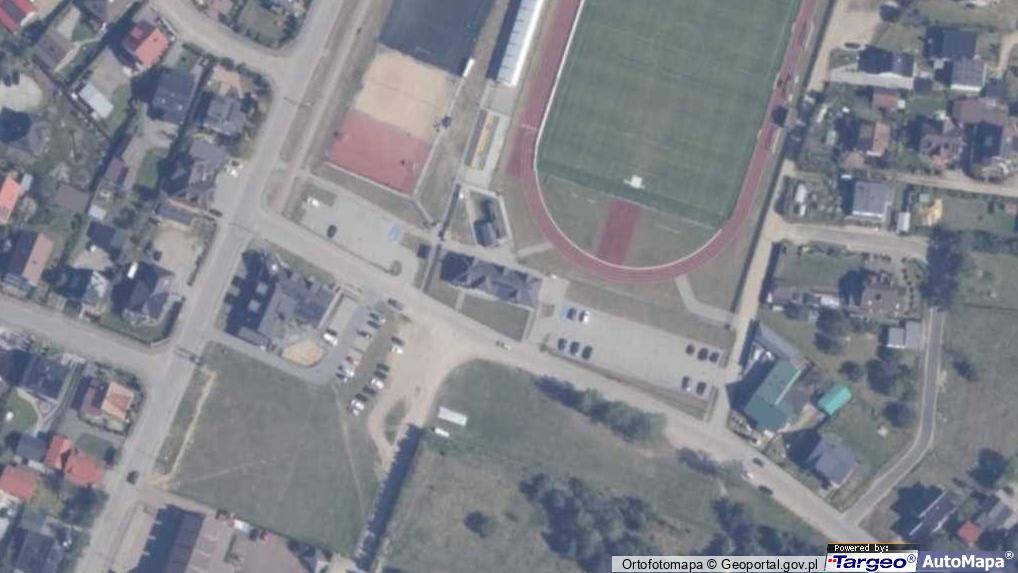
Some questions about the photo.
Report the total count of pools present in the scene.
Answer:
0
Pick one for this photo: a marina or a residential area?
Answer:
residential area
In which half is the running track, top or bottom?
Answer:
top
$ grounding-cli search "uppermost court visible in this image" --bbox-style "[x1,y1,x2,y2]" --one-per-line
[379,0,494,76]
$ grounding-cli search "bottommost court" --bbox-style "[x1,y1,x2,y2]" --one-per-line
[329,107,437,194]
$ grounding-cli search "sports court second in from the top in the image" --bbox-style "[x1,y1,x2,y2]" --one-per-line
[353,42,462,142]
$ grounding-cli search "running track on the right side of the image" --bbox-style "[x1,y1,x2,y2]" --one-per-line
[505,0,809,284]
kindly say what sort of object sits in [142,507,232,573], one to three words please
building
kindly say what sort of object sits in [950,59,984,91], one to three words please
house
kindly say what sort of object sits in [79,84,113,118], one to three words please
shed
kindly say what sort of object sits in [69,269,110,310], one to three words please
house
